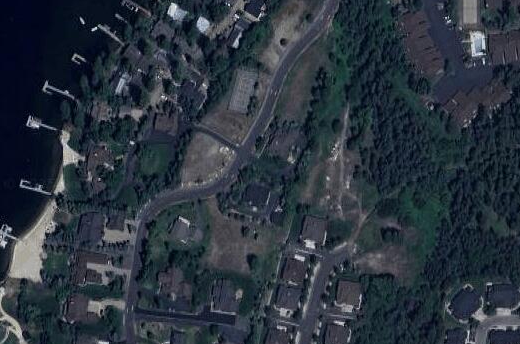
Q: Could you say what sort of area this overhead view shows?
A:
residential area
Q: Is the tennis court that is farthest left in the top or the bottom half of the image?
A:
top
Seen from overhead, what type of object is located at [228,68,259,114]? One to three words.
tennis court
